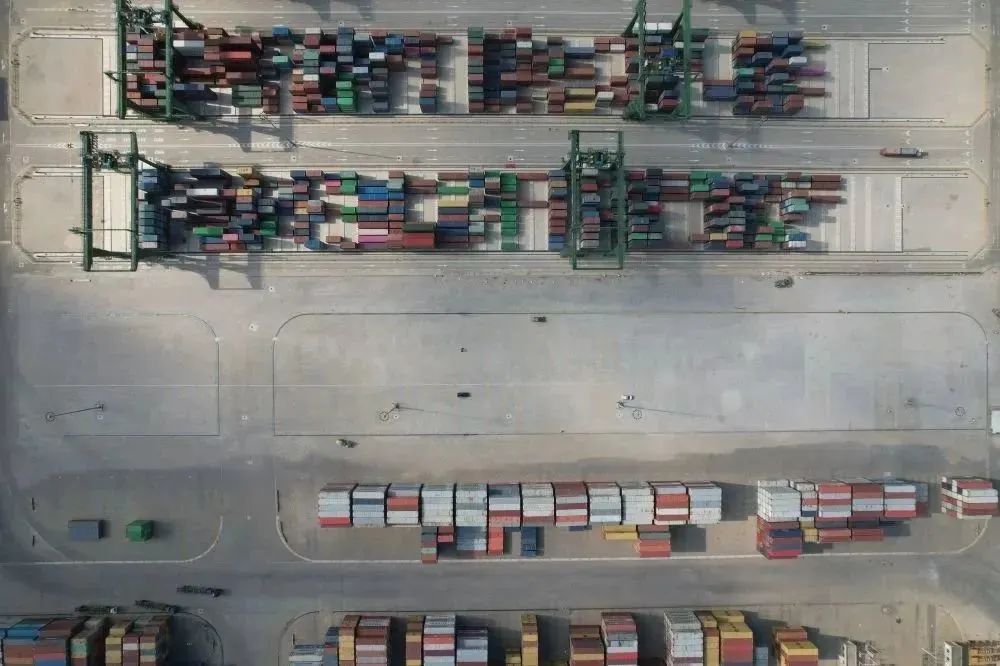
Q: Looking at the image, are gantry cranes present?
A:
Yes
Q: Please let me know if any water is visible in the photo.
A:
No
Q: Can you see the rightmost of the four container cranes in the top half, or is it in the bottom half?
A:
top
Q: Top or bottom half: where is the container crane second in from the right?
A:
top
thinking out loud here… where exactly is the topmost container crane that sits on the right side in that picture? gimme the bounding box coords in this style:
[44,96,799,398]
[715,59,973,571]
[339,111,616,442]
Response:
[619,0,694,123]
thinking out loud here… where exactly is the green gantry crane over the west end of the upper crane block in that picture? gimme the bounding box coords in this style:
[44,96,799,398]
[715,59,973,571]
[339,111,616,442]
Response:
[96,0,206,123]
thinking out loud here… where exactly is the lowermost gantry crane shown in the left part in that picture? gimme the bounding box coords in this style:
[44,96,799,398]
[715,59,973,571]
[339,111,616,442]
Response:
[63,131,174,272]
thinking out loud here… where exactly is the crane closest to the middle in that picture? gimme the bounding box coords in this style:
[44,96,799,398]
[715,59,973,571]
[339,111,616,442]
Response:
[554,131,629,270]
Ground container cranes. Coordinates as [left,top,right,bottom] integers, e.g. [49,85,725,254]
[554,131,629,270]
[63,131,174,272]
[619,0,694,123]
[96,0,206,123]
